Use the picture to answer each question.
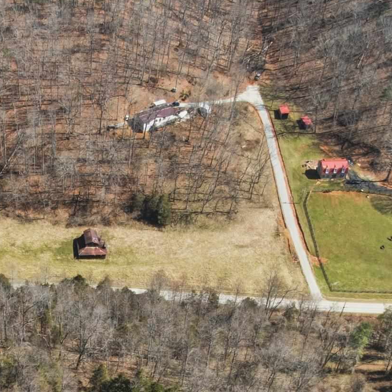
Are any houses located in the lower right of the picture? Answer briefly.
No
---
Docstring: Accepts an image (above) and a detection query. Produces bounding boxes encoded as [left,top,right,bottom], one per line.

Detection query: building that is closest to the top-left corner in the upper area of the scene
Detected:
[129,99,179,134]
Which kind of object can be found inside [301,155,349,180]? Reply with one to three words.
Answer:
house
